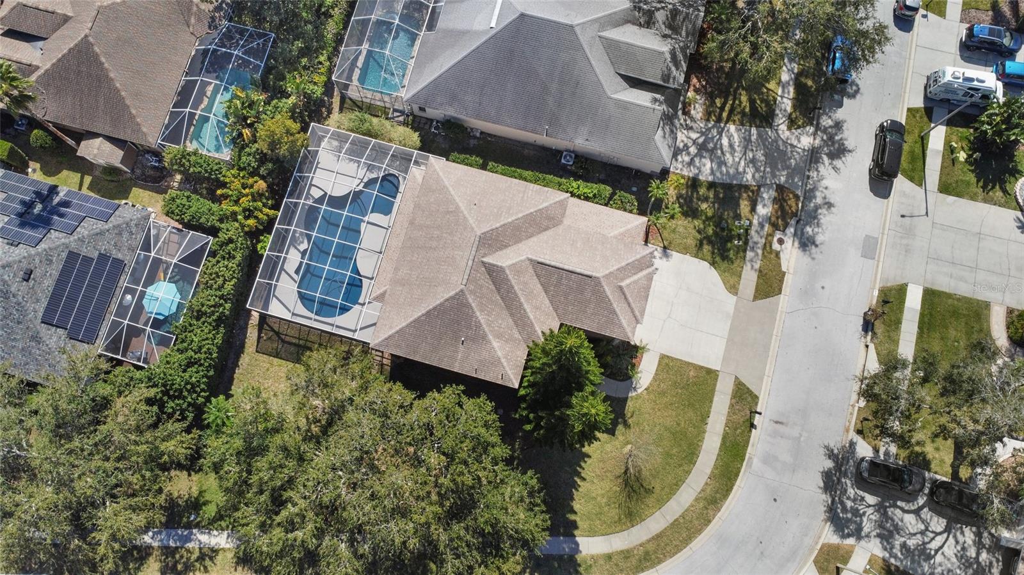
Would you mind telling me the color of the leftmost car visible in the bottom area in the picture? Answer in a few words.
black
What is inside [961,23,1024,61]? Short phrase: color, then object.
blue car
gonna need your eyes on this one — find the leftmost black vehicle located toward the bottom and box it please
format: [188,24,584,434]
[852,461,925,503]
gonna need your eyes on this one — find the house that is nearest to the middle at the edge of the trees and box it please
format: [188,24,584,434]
[366,156,659,389]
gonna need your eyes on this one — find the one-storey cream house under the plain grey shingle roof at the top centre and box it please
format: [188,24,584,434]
[404,0,704,173]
